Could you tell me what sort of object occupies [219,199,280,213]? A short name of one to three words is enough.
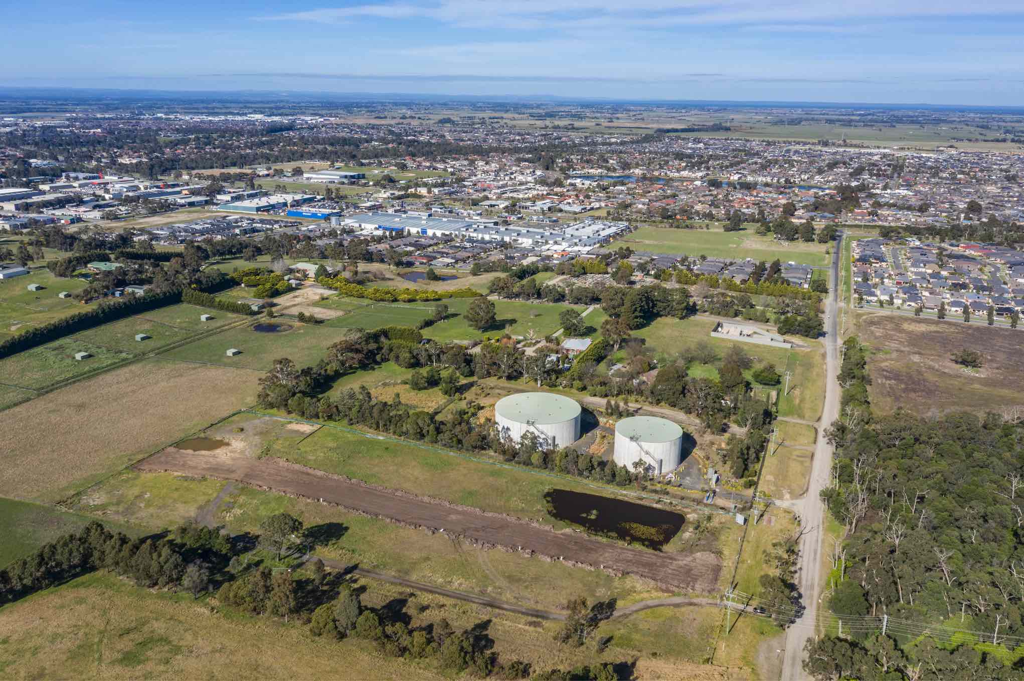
building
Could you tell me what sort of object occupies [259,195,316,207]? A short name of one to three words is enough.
building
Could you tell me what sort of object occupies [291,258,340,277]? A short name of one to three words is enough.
house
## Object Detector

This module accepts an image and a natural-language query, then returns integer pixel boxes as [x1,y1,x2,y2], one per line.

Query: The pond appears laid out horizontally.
[546,489,685,552]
